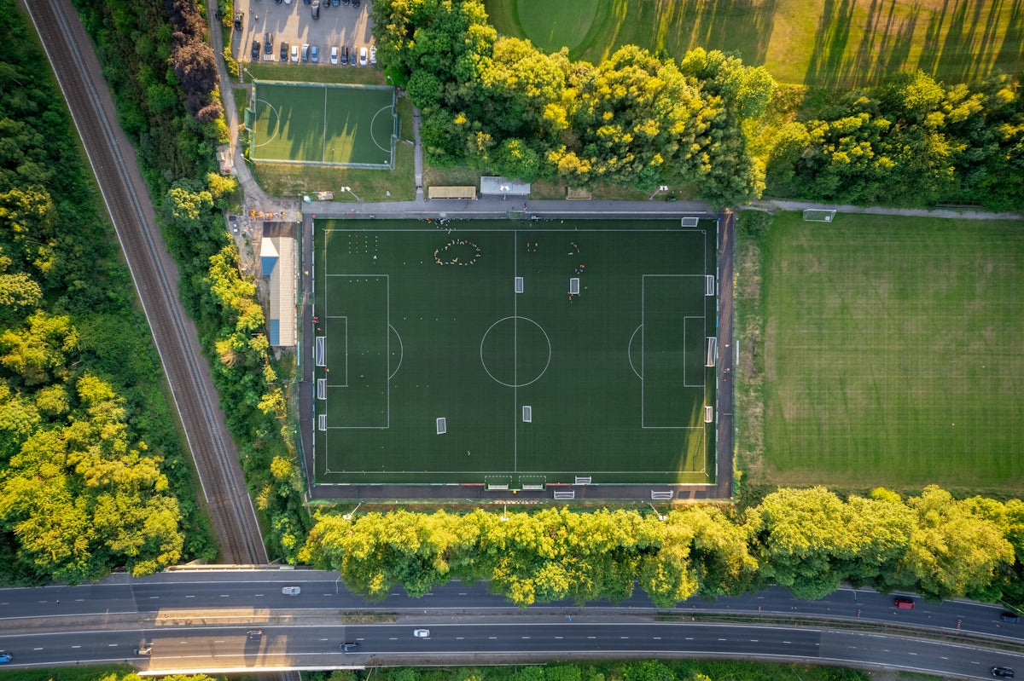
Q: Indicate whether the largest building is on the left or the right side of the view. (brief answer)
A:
left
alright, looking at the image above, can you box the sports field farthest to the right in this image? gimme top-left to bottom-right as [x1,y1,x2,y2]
[762,210,1024,491]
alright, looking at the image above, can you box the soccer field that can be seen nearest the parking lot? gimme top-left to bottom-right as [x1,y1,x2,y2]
[314,212,717,492]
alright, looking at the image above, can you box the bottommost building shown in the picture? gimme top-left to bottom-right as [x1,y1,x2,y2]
[258,237,298,346]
